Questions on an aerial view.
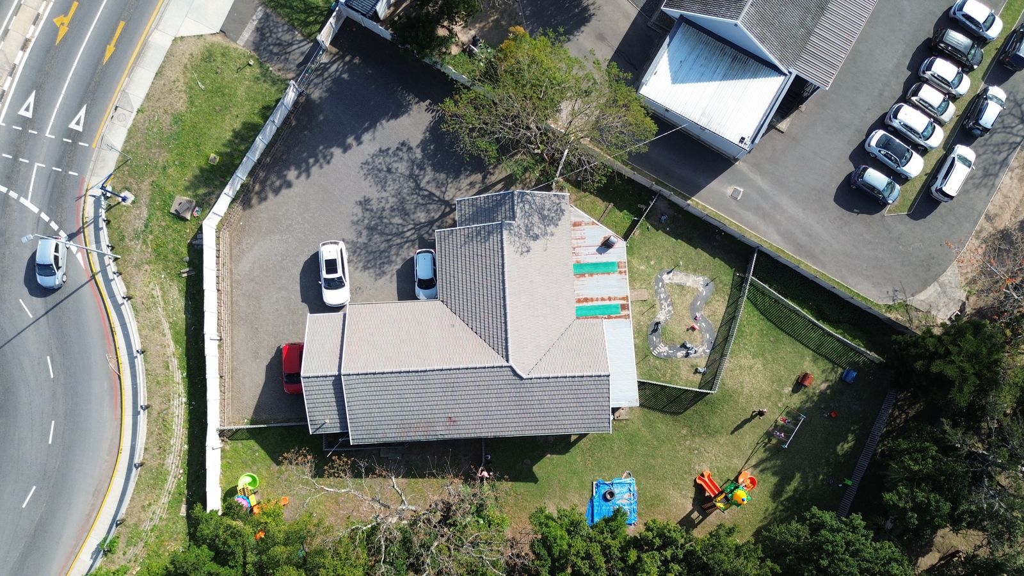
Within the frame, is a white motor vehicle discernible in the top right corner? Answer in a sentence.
Yes, in the top right corner there is a white motor vehicle.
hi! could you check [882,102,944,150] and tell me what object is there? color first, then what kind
white car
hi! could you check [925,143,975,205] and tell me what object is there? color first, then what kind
white car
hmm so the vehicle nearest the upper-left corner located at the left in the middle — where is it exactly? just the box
[33,235,74,291]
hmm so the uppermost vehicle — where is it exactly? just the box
[944,0,1004,44]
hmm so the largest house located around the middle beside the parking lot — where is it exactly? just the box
[341,190,612,446]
